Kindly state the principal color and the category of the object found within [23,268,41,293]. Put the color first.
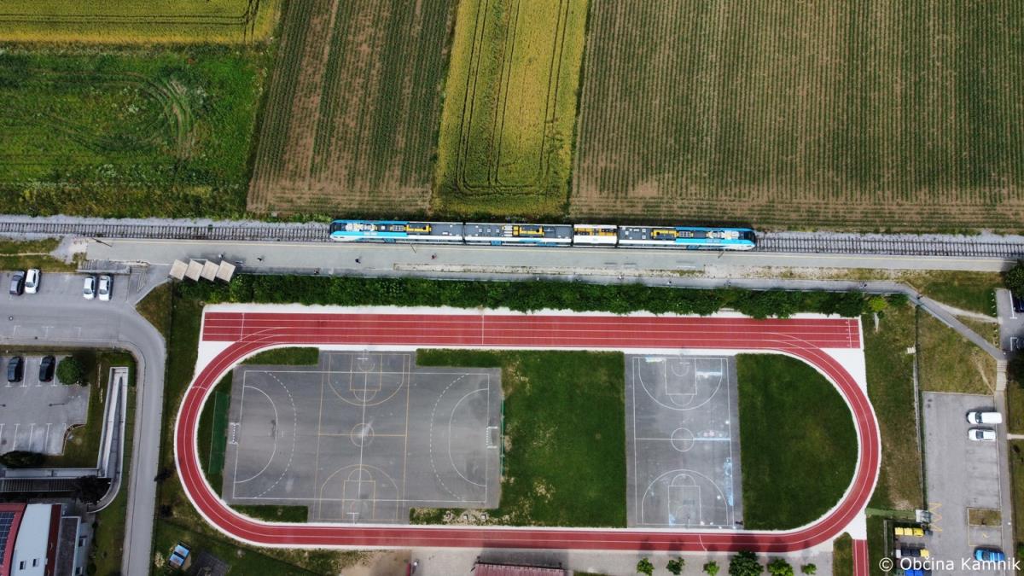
white car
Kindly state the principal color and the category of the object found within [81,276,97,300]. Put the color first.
white car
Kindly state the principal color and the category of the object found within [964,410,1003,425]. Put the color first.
white vehicle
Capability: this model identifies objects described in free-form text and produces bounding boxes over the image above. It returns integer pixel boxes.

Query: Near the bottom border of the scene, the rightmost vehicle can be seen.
[972,547,1005,562]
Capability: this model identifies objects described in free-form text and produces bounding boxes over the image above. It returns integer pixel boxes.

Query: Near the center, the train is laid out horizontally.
[329,221,757,250]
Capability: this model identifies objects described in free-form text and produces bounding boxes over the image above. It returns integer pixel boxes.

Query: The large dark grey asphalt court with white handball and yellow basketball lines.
[223,350,500,524]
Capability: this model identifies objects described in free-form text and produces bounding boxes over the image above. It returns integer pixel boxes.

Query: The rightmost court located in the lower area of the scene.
[625,354,743,530]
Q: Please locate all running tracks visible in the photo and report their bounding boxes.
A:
[174,304,883,576]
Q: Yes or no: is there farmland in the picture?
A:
Yes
